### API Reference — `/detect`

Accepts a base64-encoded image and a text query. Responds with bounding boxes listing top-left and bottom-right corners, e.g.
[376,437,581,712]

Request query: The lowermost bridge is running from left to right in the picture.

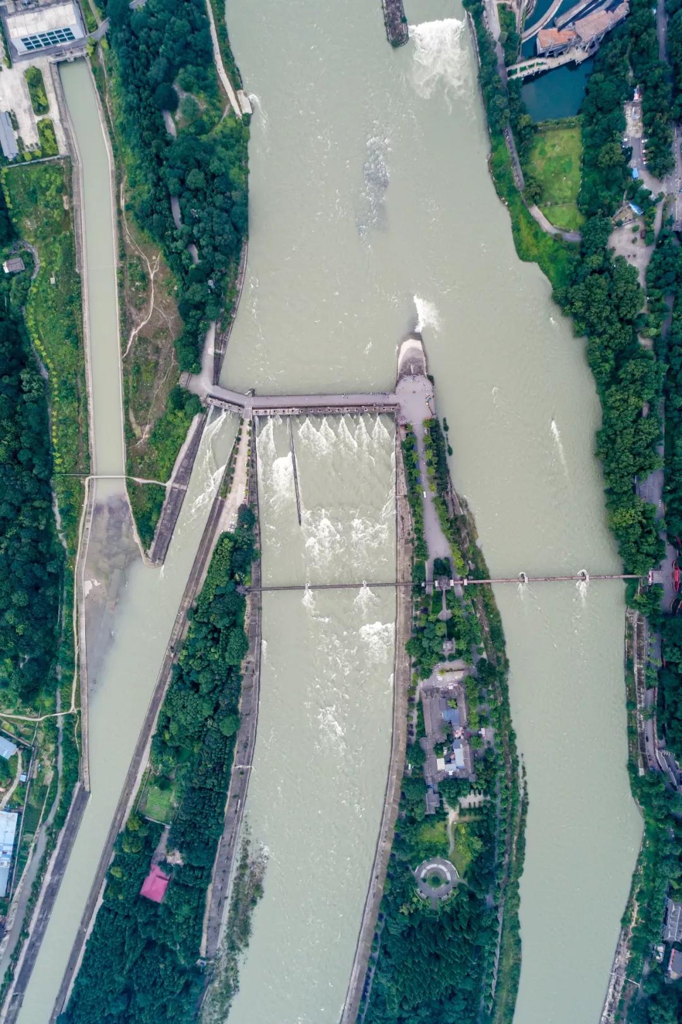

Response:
[240,569,653,593]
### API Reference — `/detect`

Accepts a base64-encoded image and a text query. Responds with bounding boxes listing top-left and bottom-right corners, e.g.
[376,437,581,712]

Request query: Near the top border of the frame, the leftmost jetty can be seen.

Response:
[382,0,408,49]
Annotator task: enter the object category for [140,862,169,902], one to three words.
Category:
house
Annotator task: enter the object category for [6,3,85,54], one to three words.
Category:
building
